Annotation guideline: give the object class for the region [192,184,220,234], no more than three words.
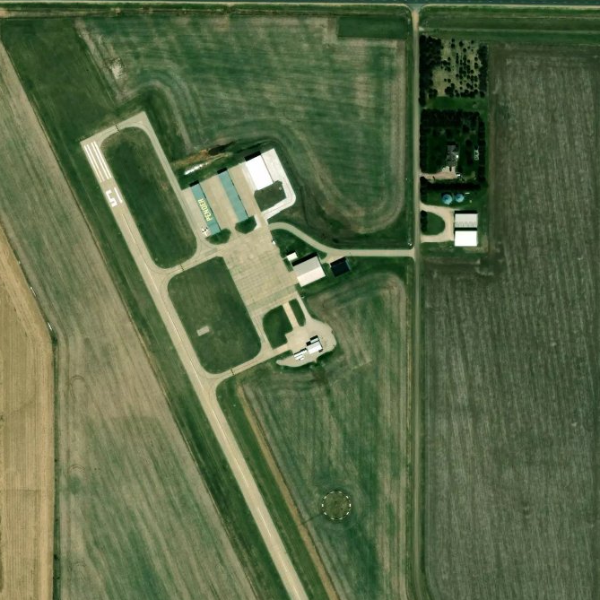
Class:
hangar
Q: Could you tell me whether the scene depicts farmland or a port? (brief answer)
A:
farmland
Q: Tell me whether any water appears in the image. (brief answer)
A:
No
